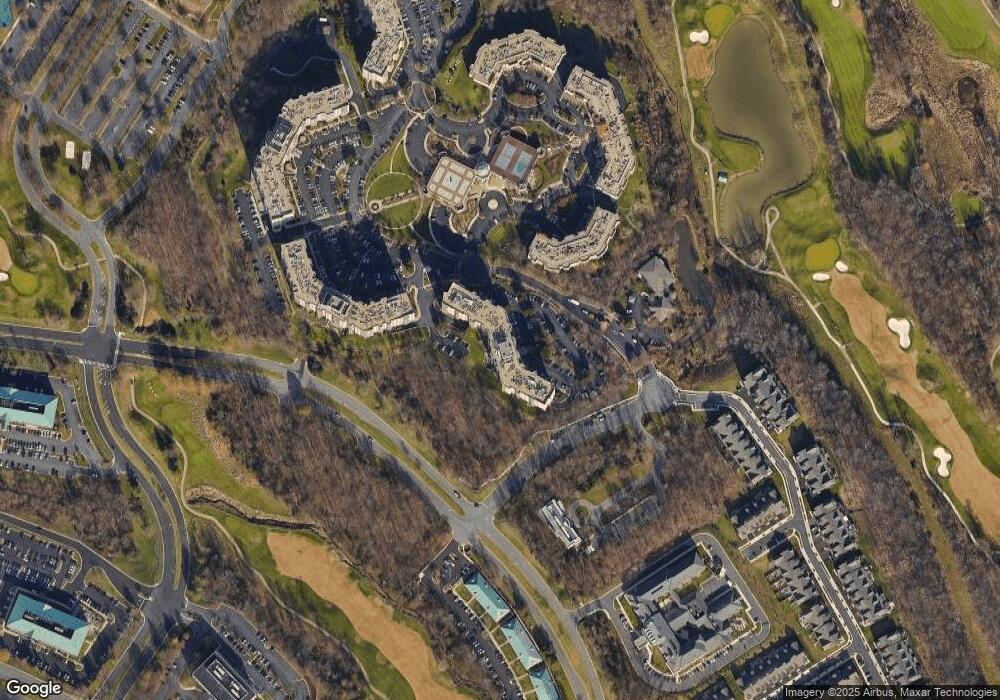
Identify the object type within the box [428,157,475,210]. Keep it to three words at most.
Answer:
building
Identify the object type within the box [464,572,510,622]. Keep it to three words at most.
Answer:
building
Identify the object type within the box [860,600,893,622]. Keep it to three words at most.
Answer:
house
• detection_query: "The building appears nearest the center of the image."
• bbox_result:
[440,282,553,413]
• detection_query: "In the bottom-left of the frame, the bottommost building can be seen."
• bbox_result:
[193,652,258,700]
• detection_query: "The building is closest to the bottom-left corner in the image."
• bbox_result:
[7,594,88,658]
